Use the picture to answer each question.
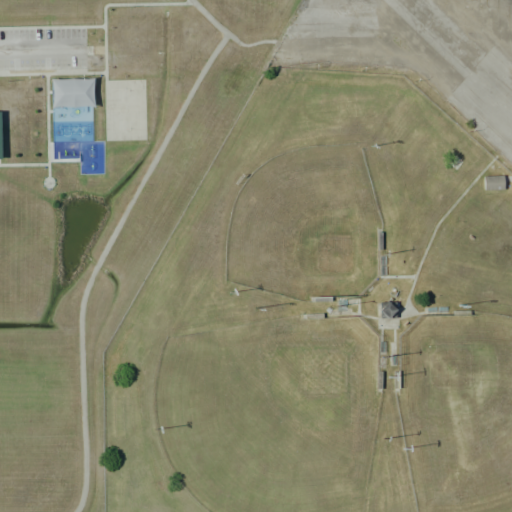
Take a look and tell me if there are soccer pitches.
No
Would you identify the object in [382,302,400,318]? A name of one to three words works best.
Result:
building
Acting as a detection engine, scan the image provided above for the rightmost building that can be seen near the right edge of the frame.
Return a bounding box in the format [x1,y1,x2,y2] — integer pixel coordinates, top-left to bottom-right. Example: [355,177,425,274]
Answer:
[485,176,506,190]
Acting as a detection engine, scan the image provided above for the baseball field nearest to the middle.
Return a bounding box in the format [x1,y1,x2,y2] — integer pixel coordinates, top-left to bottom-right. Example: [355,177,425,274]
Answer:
[226,146,382,301]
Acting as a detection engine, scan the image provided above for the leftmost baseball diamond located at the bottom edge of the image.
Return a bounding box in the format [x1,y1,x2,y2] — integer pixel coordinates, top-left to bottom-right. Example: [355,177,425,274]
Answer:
[157,319,381,512]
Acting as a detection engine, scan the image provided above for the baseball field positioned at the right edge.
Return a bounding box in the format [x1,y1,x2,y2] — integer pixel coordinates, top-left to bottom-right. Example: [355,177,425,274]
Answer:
[399,316,512,512]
